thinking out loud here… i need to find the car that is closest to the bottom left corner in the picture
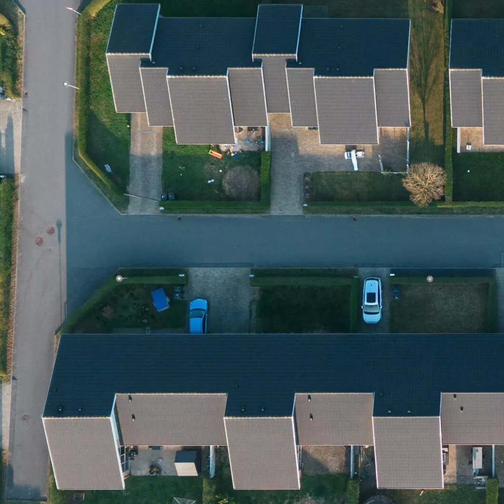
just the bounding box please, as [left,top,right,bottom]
[184,299,207,334]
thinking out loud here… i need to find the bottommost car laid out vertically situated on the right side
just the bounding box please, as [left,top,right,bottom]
[359,277,381,324]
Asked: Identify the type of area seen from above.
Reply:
residential area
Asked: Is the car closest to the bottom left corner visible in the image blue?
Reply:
Yes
